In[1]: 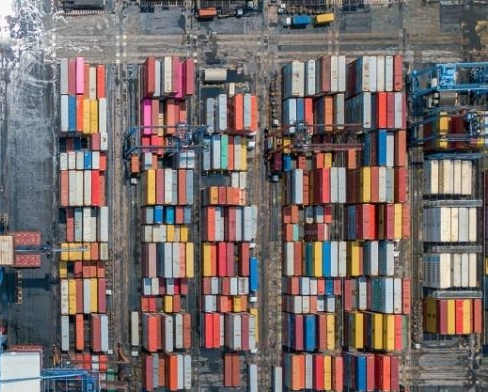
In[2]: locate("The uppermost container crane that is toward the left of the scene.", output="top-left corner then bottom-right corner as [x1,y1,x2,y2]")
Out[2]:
[127,123,214,159]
